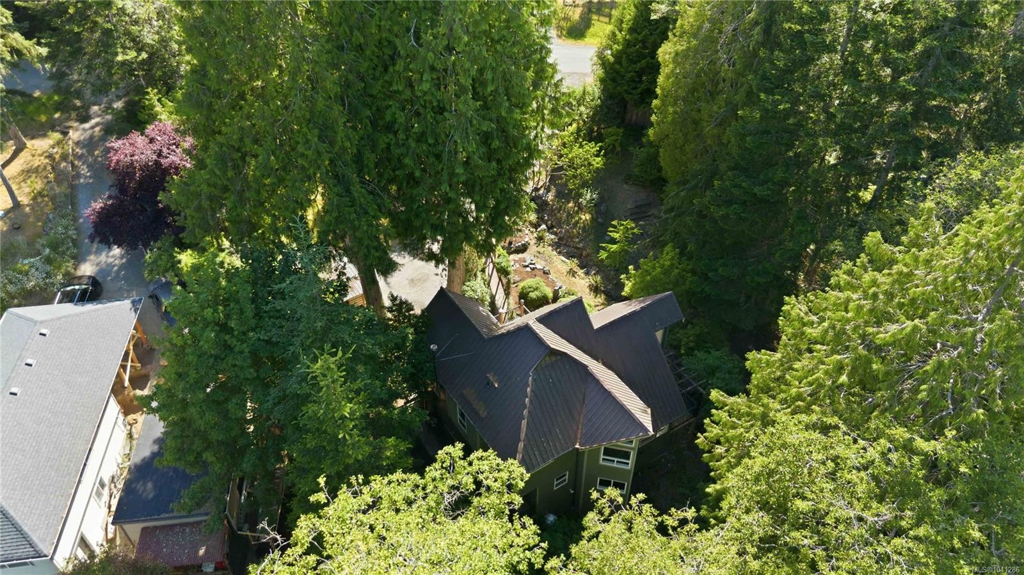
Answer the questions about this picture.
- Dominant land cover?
trees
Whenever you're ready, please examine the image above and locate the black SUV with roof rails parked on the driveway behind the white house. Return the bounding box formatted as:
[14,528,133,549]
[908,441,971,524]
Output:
[57,275,119,306]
